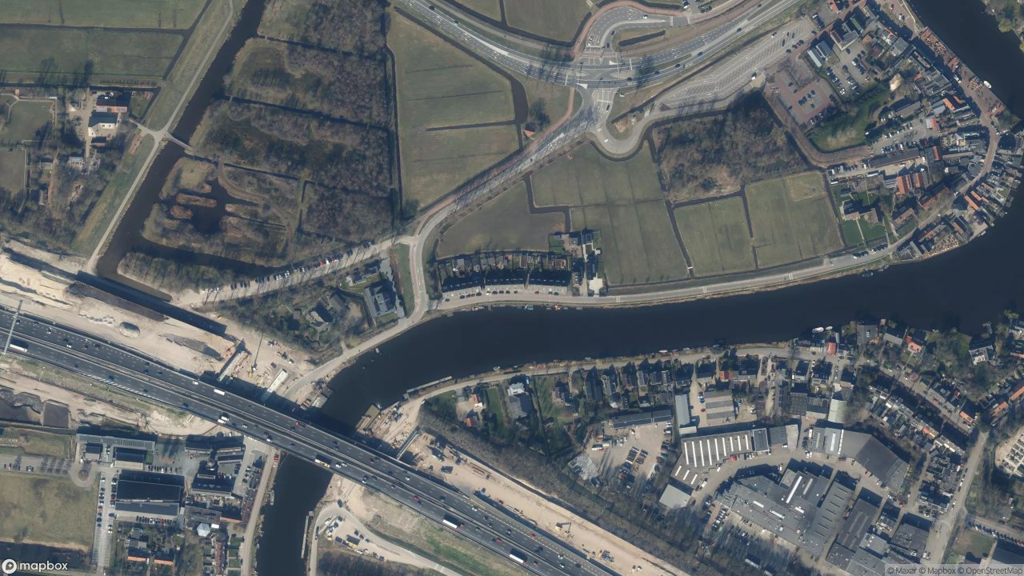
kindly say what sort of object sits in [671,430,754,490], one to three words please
building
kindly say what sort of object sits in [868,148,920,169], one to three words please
house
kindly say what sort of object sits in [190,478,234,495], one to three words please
building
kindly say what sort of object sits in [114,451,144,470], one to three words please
house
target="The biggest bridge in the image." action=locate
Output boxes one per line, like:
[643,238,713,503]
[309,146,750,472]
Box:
[222,390,419,504]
